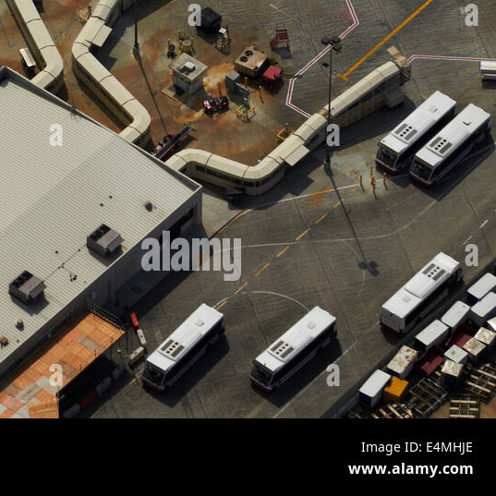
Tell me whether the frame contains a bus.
Yes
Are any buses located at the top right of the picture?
Yes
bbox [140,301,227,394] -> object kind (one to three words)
bus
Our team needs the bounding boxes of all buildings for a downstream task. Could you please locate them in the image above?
[168,52,211,101]
[0,67,205,371]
